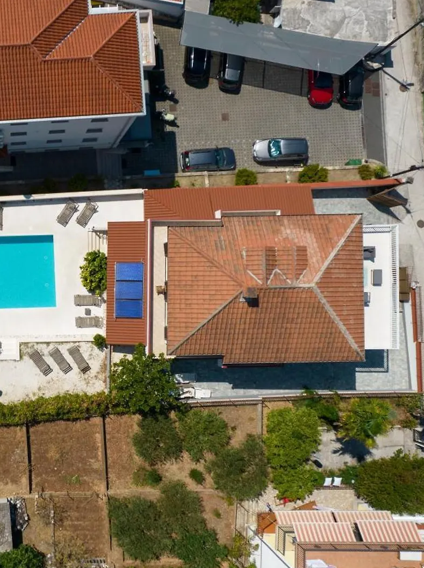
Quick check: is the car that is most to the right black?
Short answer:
Yes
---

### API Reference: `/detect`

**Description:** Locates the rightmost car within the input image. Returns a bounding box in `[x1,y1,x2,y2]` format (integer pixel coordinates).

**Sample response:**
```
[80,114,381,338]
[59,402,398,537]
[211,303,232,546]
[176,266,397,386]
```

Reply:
[333,60,367,118]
